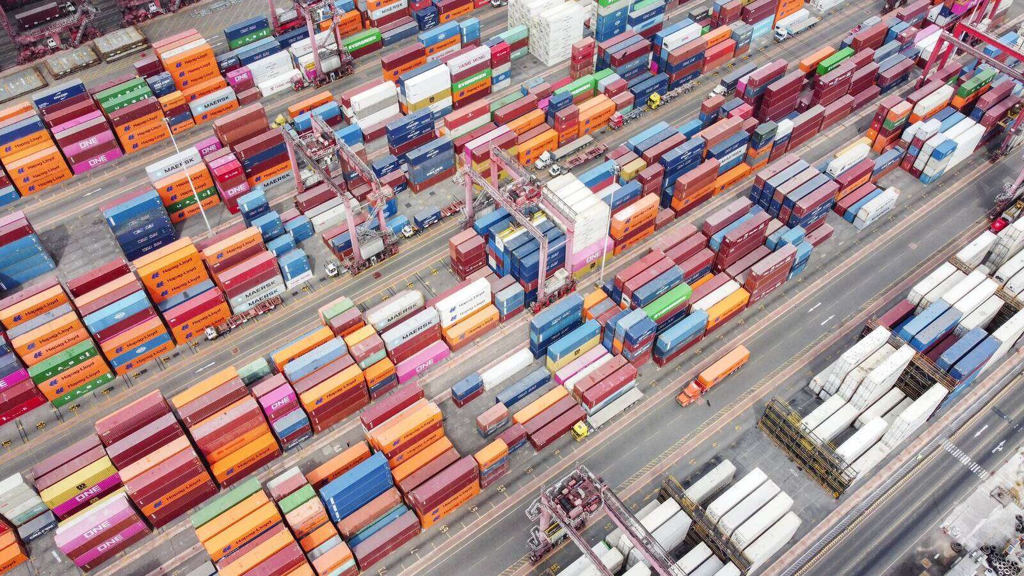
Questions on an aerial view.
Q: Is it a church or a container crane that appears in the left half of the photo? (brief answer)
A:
container crane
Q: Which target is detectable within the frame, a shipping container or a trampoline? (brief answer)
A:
shipping container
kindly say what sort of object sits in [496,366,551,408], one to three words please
shipping container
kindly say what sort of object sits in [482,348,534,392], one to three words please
shipping container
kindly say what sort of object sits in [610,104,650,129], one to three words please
truck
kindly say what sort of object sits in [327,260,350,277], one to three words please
vehicle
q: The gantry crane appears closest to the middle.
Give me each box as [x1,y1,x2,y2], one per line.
[453,140,588,309]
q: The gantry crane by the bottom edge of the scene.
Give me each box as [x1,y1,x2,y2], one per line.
[525,459,696,576]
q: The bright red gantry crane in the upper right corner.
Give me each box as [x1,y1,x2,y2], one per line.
[903,16,1024,156]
